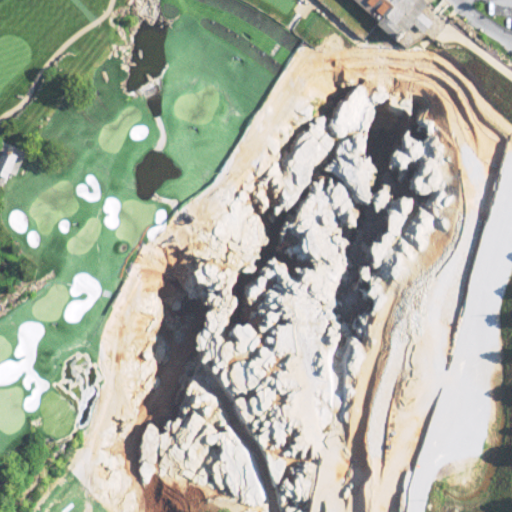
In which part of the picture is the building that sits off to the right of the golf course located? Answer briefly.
top right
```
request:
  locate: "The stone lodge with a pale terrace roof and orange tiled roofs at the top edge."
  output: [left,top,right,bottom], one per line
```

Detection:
[356,0,438,50]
